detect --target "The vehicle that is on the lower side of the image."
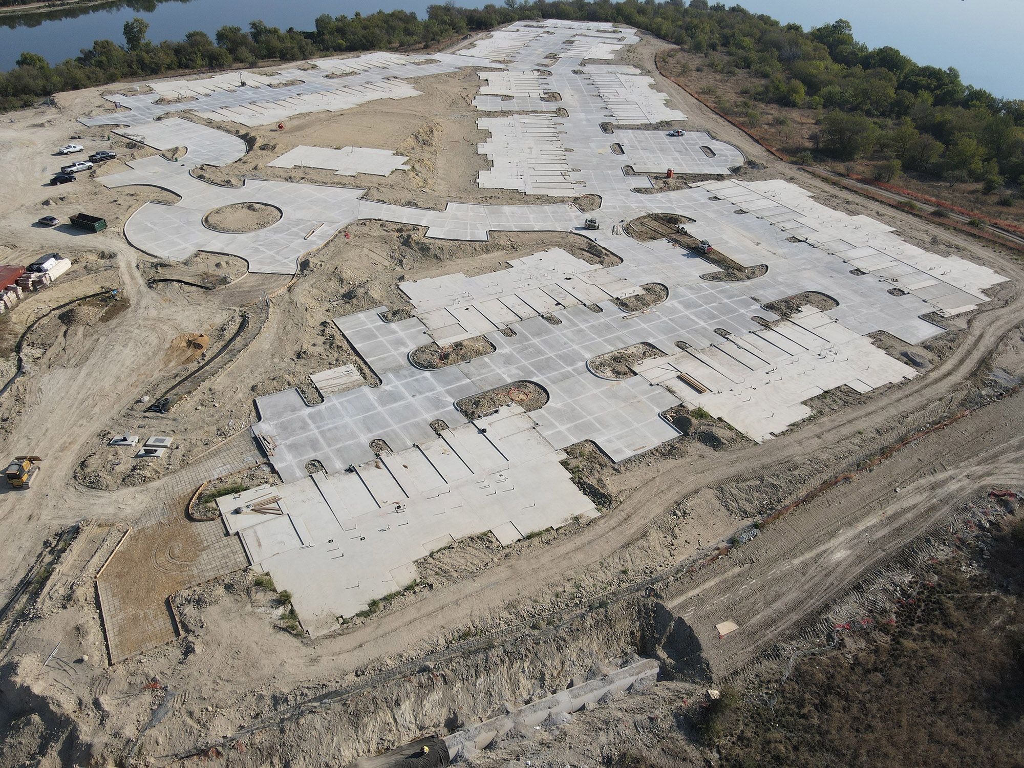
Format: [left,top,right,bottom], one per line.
[0,454,51,496]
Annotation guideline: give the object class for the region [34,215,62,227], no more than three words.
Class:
vehicle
